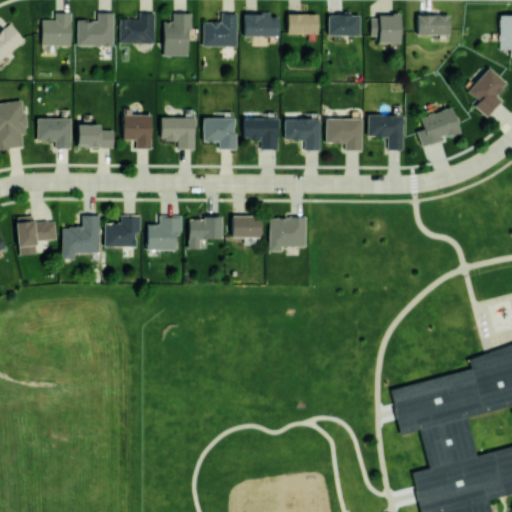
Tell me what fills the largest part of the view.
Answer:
grass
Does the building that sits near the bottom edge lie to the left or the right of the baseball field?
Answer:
on its right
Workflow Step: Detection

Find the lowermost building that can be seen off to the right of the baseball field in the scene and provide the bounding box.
[392,342,512,512]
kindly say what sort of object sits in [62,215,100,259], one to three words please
house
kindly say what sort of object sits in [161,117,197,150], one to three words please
house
